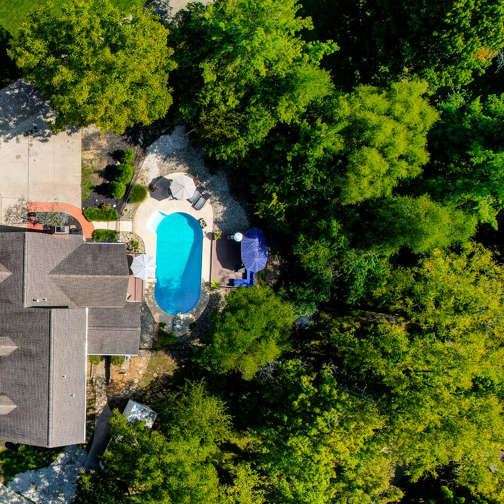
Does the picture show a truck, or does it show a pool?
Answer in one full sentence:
This aerial view contains a pool.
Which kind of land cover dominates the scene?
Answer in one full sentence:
The bulk of the photo consists of trees.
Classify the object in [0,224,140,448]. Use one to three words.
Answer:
house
